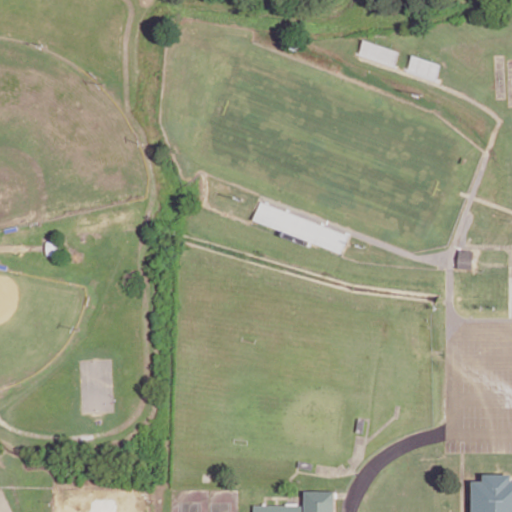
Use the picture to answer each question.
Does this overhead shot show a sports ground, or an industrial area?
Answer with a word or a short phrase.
sports ground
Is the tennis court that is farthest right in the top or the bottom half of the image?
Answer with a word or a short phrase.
bottom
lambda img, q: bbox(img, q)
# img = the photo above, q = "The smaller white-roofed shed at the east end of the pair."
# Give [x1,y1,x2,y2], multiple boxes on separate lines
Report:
[407,56,442,81]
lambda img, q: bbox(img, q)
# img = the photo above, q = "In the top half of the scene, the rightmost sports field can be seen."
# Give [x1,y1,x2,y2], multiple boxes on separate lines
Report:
[165,25,480,250]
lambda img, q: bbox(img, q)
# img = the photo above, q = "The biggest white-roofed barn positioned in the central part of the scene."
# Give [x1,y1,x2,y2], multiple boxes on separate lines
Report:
[252,202,350,254]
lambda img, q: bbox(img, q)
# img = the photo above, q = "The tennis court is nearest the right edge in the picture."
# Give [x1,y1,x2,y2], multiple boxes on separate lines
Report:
[209,490,238,512]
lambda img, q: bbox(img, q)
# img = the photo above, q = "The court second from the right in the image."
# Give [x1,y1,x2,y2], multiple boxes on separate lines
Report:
[172,490,208,512]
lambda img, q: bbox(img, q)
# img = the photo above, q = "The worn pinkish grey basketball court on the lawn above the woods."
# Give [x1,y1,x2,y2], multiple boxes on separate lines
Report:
[80,359,114,416]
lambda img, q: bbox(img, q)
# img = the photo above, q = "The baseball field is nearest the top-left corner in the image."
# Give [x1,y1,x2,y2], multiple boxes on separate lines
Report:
[0,38,148,228]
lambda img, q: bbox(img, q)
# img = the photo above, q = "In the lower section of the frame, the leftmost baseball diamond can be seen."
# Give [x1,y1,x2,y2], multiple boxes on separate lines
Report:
[0,271,86,390]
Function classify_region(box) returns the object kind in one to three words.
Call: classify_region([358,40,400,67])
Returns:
shed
